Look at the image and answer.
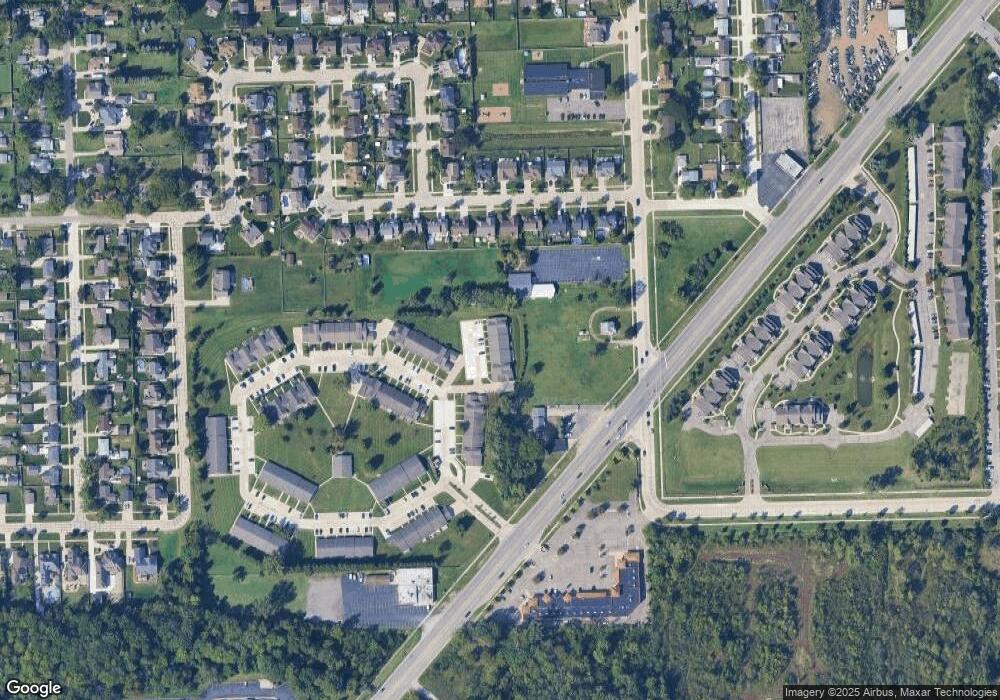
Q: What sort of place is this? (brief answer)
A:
residential area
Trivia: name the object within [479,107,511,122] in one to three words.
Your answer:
playground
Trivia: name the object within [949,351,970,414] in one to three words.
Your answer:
sports court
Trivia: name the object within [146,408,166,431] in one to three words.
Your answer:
house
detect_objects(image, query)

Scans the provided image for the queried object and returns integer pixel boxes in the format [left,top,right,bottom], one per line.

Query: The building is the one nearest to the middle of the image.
[487,317,513,383]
